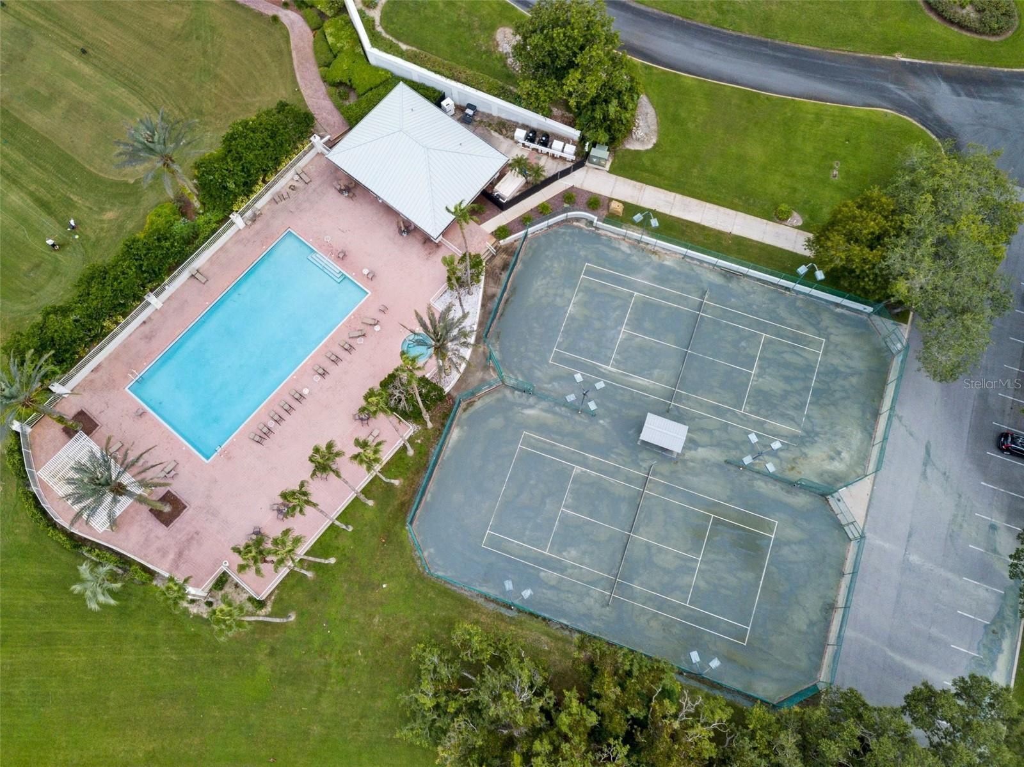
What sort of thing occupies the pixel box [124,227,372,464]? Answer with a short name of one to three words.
swimming pool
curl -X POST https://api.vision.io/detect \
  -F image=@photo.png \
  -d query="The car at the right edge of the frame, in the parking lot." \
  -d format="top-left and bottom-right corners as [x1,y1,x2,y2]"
[997,434,1024,463]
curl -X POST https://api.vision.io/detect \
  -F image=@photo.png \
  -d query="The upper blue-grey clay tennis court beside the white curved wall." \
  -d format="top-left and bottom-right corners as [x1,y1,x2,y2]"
[487,219,893,495]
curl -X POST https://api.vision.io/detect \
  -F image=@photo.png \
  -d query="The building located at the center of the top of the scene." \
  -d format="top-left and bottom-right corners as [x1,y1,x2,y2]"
[325,82,511,248]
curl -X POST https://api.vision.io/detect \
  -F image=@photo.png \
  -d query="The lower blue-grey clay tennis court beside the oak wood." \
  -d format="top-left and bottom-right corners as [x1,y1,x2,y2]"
[408,383,850,702]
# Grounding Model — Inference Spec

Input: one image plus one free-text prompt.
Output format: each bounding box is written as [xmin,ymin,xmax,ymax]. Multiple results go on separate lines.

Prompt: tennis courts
[487,219,893,495]
[408,383,850,702]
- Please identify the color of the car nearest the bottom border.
black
